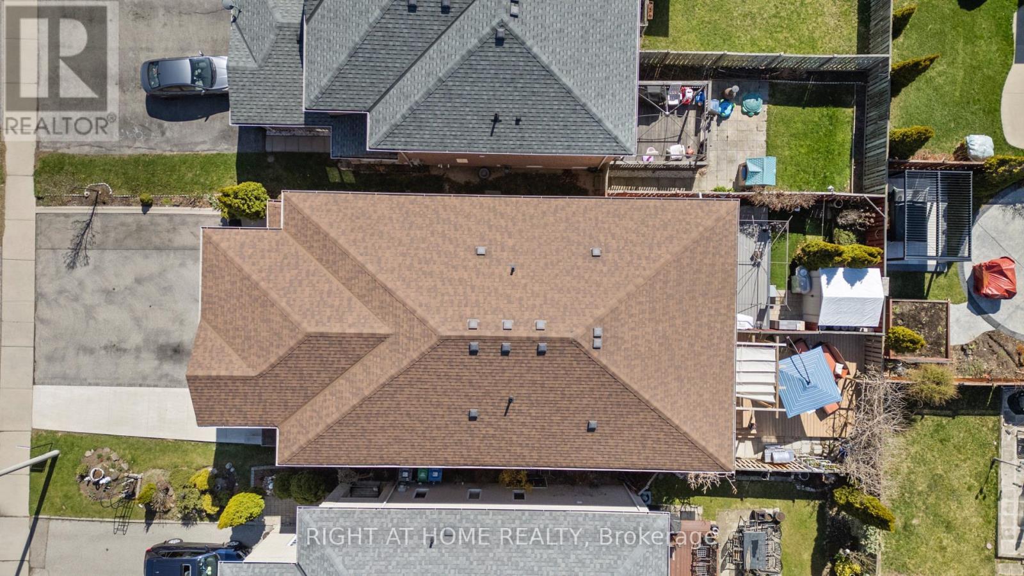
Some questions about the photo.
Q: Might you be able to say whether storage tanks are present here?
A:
No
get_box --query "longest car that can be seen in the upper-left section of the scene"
[143,52,230,100]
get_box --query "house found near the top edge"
[227,0,637,169]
